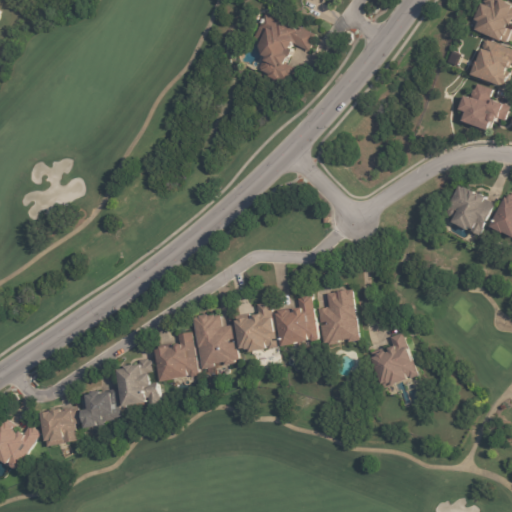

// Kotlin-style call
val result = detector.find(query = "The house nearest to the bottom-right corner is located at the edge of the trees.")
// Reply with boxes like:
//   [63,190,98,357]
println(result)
[372,333,420,386]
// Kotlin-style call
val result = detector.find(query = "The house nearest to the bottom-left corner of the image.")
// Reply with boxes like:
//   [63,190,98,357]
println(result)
[0,419,42,467]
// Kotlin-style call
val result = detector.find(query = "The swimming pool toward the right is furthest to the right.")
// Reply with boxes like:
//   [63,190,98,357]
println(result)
[446,226,473,240]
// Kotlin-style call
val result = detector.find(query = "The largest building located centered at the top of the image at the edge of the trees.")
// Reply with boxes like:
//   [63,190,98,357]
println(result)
[255,15,317,80]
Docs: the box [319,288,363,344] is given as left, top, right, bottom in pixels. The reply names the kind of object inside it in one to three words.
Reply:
house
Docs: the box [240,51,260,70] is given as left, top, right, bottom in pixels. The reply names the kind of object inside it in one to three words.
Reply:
swimming pool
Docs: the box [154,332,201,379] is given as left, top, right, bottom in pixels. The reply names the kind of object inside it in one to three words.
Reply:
house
